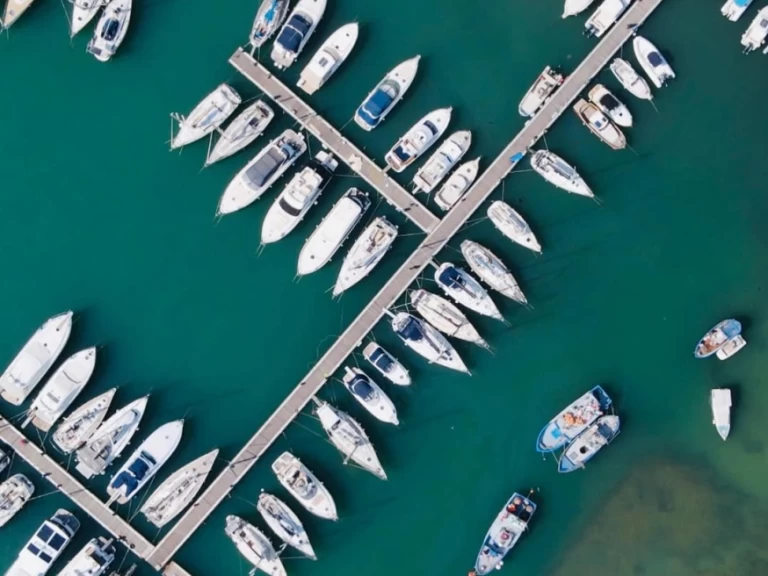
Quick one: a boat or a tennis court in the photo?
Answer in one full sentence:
Looking from above, you can make out a boat.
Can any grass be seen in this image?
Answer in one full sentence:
No, the picture contains no grass.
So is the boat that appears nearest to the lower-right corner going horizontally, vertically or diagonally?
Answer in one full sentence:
What the image shows is the boat that appears nearest to the lower-right corner lying vertically.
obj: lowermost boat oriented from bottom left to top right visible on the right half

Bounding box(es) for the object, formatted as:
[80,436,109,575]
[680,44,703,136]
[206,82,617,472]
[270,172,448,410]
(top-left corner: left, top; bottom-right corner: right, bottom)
[470,490,534,575]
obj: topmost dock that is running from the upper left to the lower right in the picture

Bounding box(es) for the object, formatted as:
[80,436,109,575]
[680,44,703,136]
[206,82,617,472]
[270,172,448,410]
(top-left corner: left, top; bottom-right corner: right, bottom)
[229,47,441,235]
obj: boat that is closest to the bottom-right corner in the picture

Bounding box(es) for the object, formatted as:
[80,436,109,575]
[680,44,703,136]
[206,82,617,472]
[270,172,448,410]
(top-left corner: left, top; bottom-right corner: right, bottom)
[712,389,734,440]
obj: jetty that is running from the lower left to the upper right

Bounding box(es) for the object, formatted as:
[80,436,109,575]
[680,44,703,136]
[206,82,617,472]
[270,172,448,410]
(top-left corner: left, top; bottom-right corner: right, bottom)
[146,0,662,571]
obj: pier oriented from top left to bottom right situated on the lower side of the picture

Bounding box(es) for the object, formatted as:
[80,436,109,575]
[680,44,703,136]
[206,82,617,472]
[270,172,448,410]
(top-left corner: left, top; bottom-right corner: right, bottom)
[0,414,158,559]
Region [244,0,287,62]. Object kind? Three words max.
boat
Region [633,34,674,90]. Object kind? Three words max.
boat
